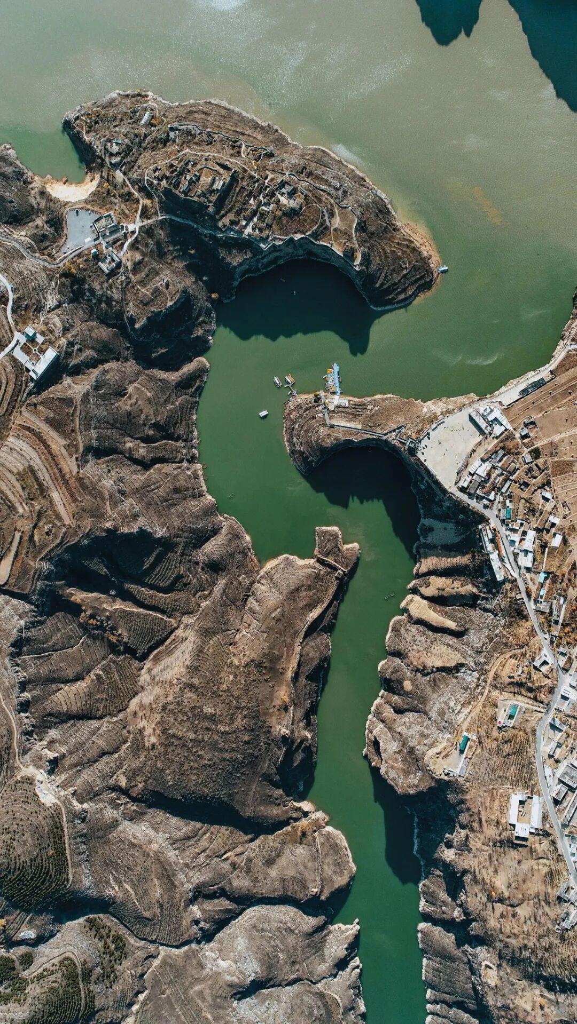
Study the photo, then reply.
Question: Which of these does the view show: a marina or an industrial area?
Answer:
marina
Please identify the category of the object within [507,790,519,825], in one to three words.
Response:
house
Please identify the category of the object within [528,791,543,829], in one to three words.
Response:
house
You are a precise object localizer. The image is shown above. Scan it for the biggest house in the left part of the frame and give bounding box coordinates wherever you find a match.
[35,348,66,379]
